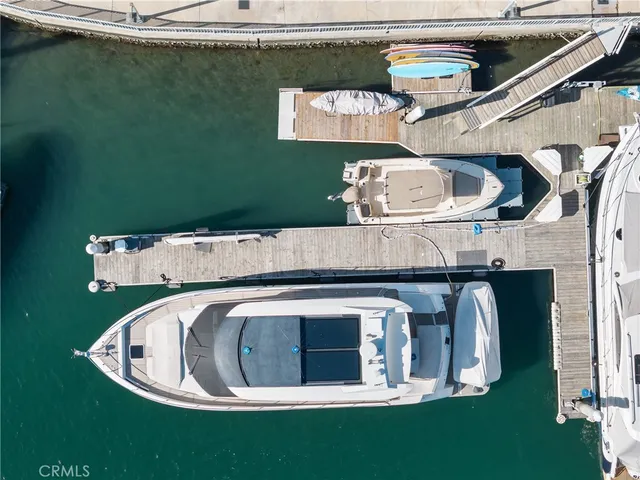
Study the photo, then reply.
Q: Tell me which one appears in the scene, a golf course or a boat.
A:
boat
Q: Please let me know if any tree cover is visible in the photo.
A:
No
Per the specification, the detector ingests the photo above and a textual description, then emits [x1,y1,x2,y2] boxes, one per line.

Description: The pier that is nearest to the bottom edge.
[93,84,640,421]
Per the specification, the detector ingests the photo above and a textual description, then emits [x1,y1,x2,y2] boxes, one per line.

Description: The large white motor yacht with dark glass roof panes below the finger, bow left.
[71,282,491,411]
